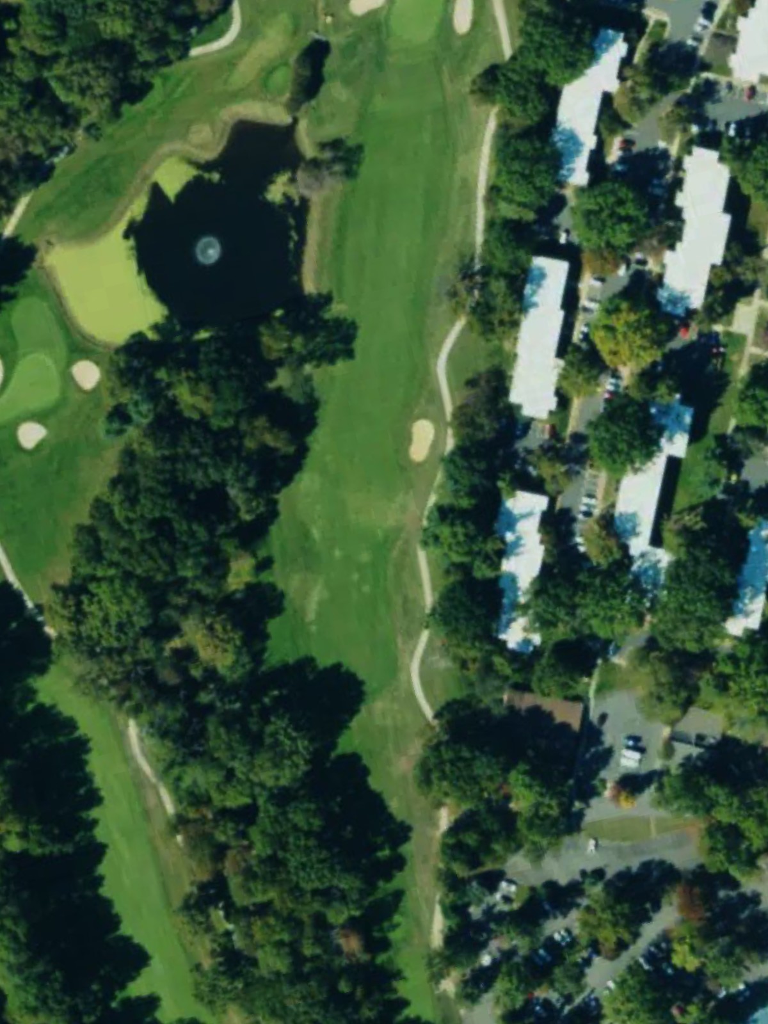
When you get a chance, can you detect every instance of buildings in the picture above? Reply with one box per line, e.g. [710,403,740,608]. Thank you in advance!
[728,0,768,84]
[657,147,731,315]
[500,690,584,742]
[615,407,694,597]
[670,708,724,748]
[510,257,569,419]
[500,490,549,651]
[556,31,628,186]
[725,515,768,636]
[751,1003,768,1024]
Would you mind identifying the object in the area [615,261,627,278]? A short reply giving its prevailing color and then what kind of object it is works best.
white vehicle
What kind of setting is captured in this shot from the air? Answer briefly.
golf course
